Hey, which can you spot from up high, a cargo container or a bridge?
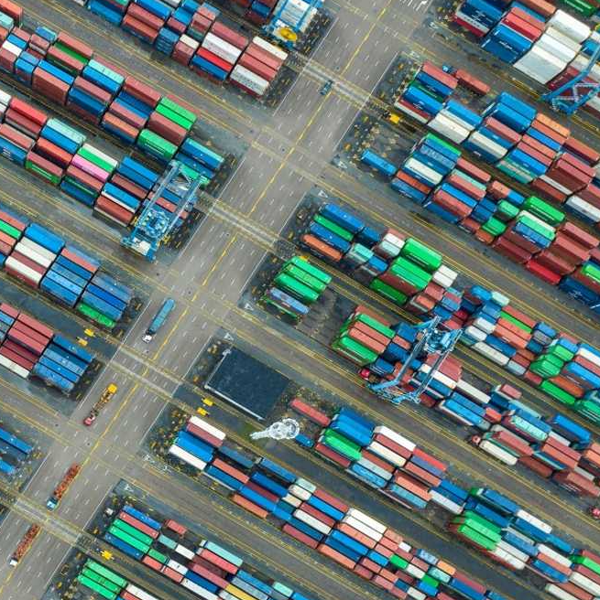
cargo container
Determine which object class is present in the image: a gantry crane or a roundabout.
gantry crane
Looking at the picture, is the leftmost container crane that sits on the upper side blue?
Yes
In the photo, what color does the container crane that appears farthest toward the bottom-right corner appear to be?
blue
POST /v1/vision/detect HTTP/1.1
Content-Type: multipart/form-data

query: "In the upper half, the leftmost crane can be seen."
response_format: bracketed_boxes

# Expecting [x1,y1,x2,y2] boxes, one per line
[118,156,204,266]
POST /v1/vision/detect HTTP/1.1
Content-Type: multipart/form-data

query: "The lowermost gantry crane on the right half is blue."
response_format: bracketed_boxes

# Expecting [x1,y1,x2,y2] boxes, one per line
[363,310,467,410]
